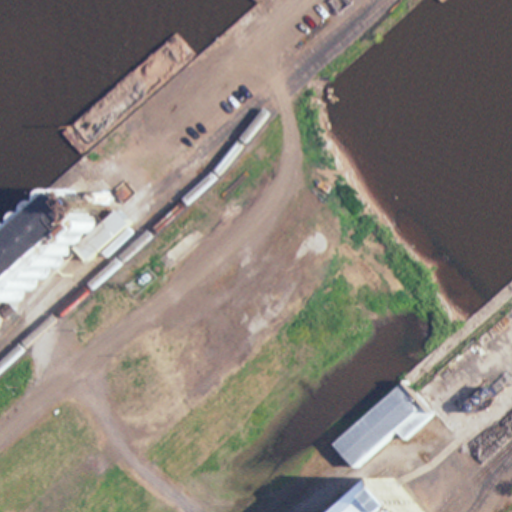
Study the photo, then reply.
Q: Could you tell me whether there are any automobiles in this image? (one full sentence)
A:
Yes, an automobile can be made out from above.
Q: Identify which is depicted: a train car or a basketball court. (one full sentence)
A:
The one in the frame is a train car.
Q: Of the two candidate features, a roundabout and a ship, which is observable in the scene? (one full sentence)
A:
The one in the frame is a ship.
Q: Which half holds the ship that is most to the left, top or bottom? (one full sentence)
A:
It is in the top half that the ship that is most to the left appears.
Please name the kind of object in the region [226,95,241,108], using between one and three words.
vehicle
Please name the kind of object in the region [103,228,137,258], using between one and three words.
rail car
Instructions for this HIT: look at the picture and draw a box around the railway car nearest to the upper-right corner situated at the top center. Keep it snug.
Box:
[240,104,274,140]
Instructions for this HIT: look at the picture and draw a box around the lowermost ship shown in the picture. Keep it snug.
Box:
[62,33,194,154]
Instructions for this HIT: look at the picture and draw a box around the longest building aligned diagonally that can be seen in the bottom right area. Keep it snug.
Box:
[332,387,420,468]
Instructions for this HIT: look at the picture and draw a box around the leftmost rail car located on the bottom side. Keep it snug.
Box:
[0,346,24,375]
